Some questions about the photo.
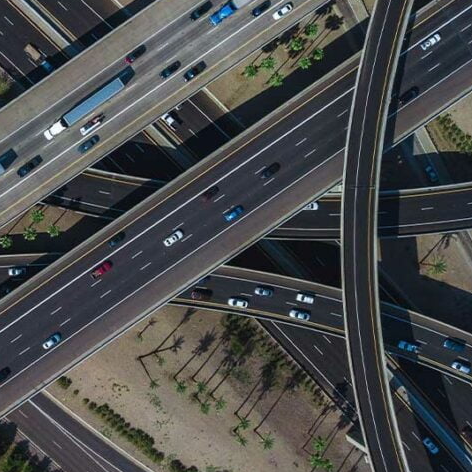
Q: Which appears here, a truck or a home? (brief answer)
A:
truck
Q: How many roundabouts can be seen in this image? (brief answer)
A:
zero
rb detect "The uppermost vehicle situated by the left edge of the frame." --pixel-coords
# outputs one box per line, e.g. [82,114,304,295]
[23,44,50,70]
